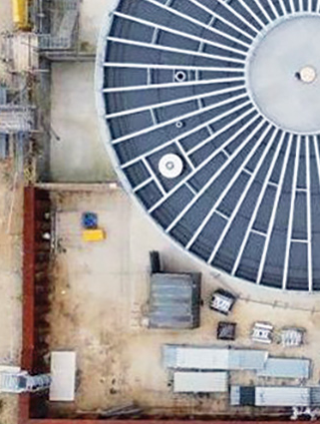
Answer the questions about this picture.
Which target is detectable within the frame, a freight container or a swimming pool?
freight container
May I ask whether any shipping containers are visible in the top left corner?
No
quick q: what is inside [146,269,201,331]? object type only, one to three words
shed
